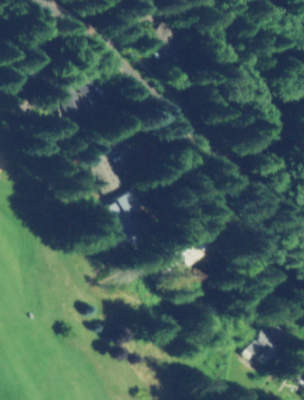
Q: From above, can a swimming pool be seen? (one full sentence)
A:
No, the picture doesn't show any swimming pool.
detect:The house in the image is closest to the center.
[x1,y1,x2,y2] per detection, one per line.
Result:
[106,190,136,220]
